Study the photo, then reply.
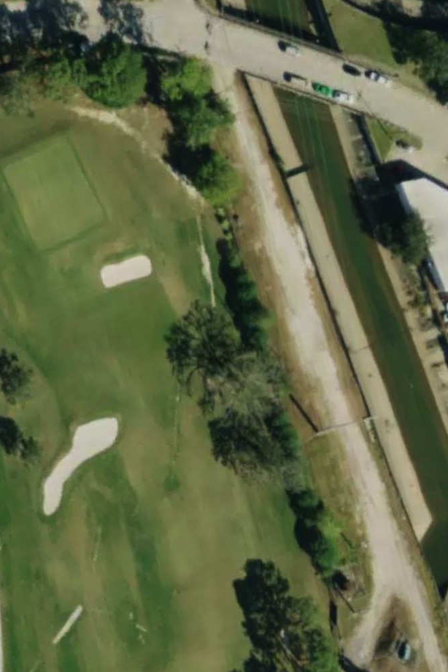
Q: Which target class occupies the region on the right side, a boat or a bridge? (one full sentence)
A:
It is a bridge that can be seen on the right side.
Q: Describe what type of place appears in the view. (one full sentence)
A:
The picture captures a golf course.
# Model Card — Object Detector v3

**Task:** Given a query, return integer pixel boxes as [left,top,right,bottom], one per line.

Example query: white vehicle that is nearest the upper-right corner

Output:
[367,70,391,87]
